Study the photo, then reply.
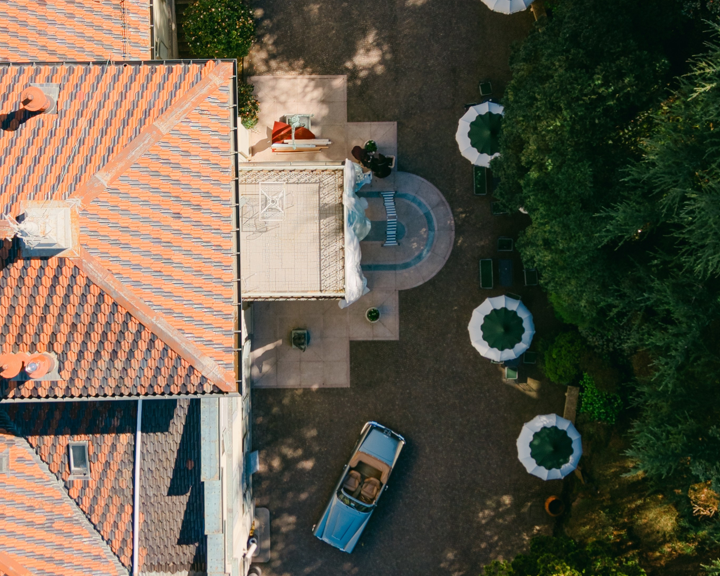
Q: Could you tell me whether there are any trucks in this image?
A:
No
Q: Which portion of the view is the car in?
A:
bottom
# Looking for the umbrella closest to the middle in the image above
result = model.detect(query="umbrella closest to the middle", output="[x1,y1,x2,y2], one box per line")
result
[468,295,531,358]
